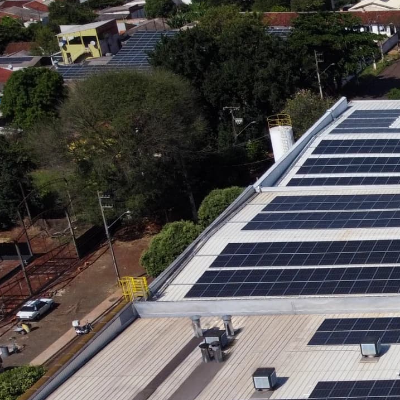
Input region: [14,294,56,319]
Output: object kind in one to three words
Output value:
car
